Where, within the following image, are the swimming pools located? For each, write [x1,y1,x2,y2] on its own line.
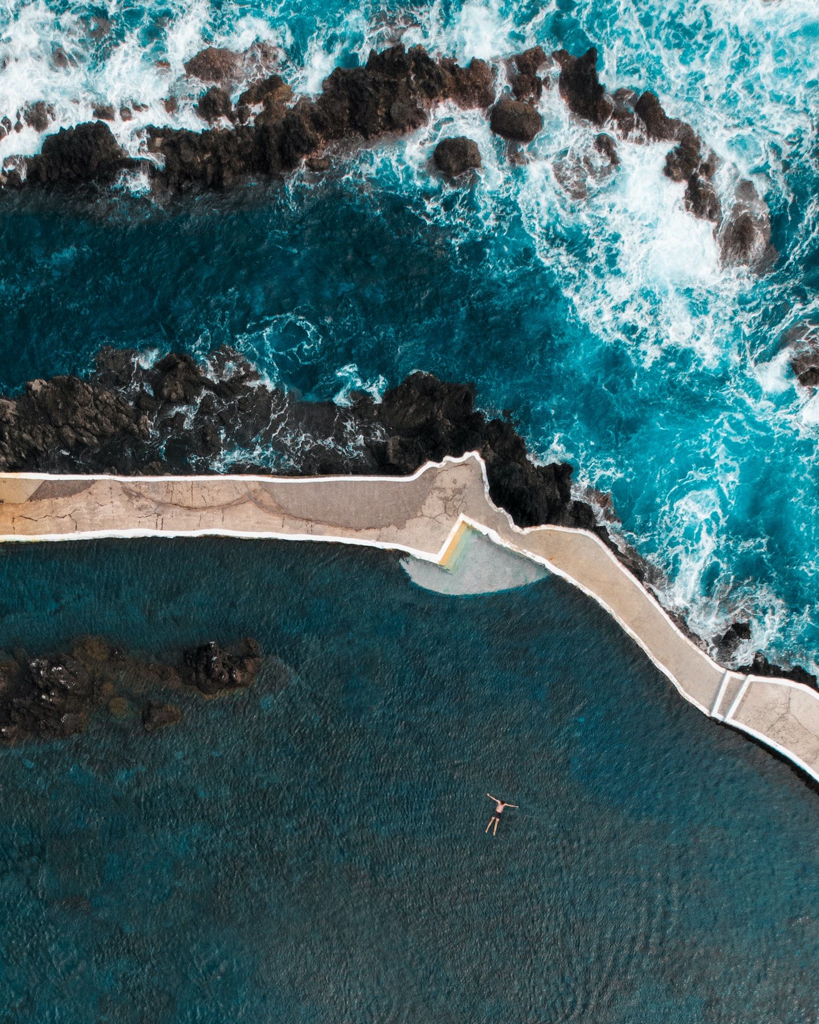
[0,535,819,1024]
